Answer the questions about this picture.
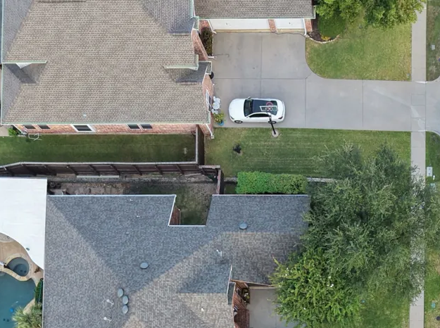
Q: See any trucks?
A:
No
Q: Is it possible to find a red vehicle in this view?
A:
No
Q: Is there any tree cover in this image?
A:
Yes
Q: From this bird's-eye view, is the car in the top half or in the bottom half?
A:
top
